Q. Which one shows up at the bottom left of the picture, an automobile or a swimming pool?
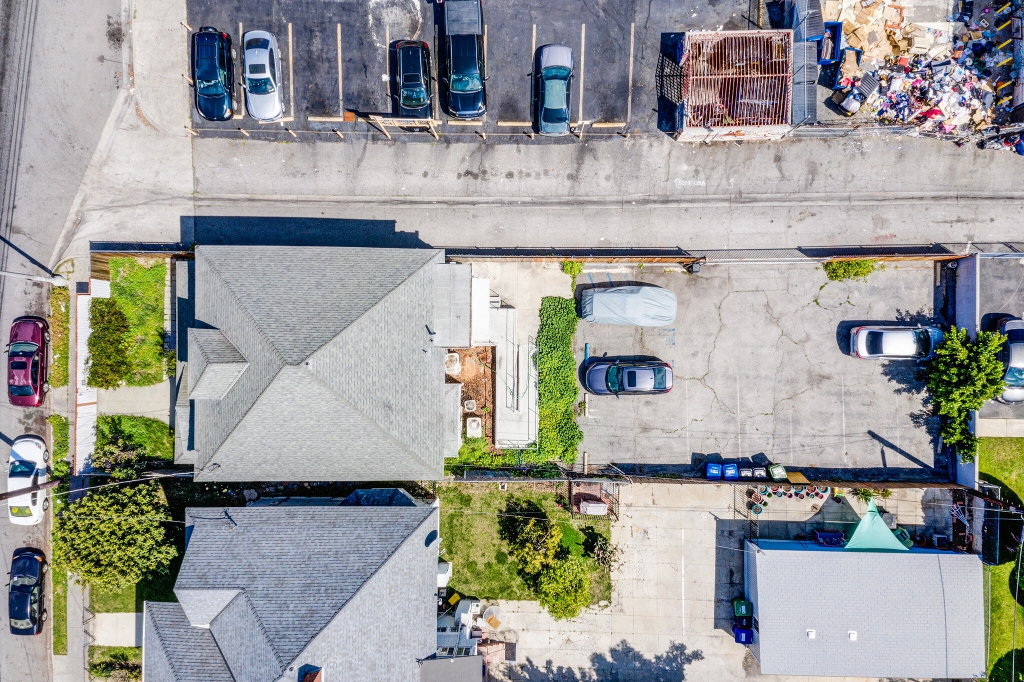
automobile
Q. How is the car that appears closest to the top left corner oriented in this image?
vertically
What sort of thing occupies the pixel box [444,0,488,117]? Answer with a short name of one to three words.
truck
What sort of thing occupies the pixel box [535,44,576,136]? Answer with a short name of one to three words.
car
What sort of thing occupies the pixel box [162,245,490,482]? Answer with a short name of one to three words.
house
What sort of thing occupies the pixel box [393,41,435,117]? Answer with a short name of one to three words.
car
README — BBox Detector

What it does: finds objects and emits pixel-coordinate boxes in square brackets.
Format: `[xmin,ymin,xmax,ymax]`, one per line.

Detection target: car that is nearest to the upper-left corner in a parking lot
[188,23,235,120]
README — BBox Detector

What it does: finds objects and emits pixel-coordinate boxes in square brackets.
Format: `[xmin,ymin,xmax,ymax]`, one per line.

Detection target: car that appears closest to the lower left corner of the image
[0,550,48,637]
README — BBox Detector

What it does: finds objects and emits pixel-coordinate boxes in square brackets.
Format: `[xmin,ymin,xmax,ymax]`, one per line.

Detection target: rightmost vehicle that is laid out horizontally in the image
[844,323,938,364]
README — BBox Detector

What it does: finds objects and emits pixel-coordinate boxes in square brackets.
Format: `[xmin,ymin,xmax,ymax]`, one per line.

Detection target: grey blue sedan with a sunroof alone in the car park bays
[585,358,675,400]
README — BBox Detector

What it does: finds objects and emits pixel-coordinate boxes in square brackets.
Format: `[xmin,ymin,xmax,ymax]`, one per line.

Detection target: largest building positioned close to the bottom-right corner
[744,540,987,677]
